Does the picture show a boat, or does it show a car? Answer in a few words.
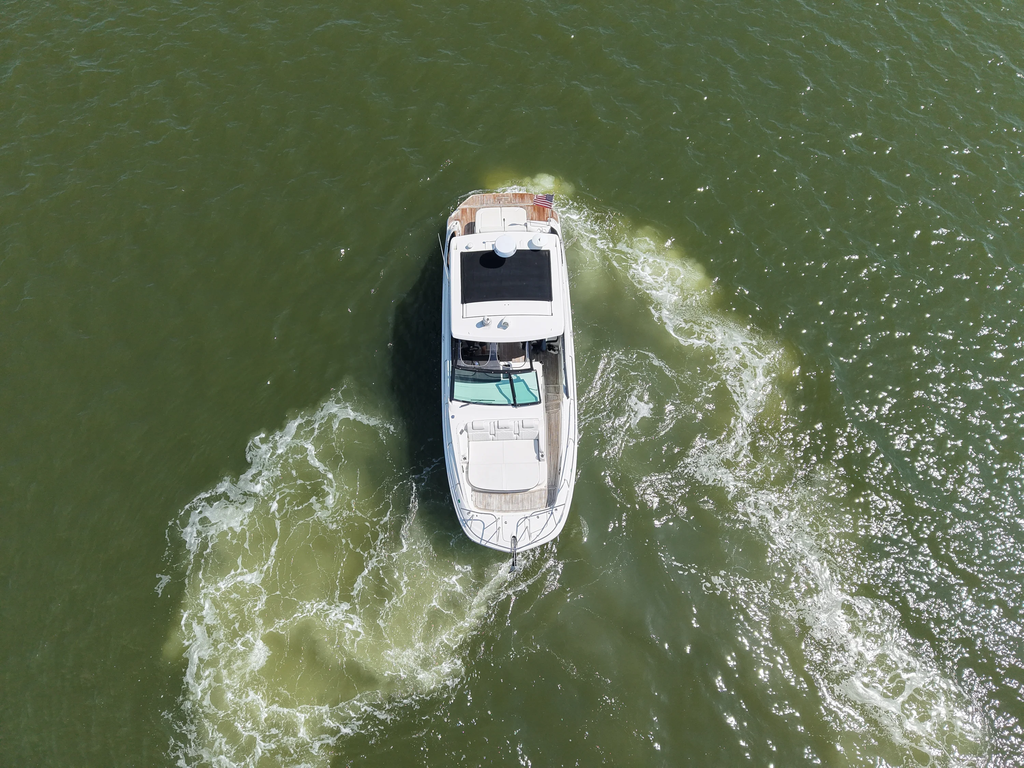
boat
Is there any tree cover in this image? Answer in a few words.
No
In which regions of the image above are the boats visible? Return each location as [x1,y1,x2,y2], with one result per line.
[438,193,578,561]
